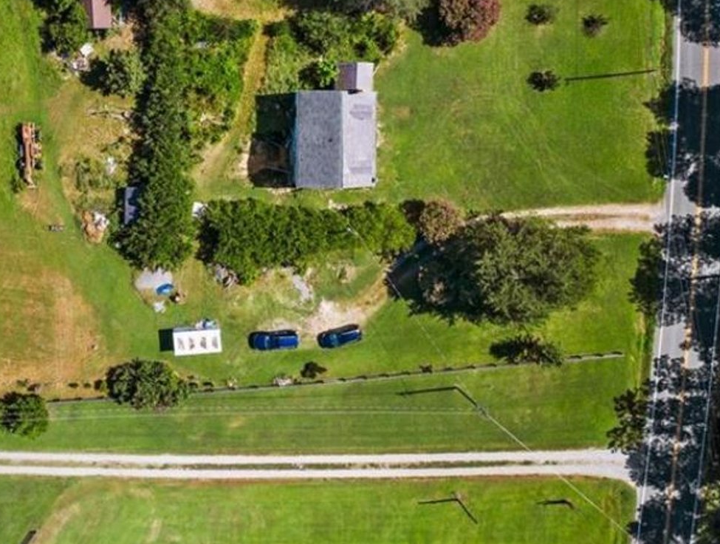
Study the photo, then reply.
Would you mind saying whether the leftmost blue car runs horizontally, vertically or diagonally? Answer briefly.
horizontally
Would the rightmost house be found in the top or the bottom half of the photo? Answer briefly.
top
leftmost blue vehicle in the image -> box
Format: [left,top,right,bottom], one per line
[253,332,300,354]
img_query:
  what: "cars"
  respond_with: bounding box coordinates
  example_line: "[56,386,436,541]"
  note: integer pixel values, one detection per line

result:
[317,324,366,353]
[253,332,300,354]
